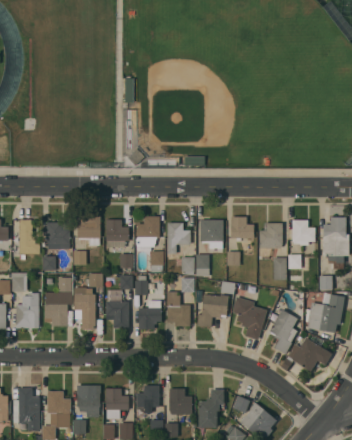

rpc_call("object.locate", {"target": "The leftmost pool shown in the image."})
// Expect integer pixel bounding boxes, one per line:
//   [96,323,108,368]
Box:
[59,248,72,270]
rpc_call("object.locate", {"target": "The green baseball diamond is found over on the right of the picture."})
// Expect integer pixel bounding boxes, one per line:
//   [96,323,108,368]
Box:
[124,0,352,167]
